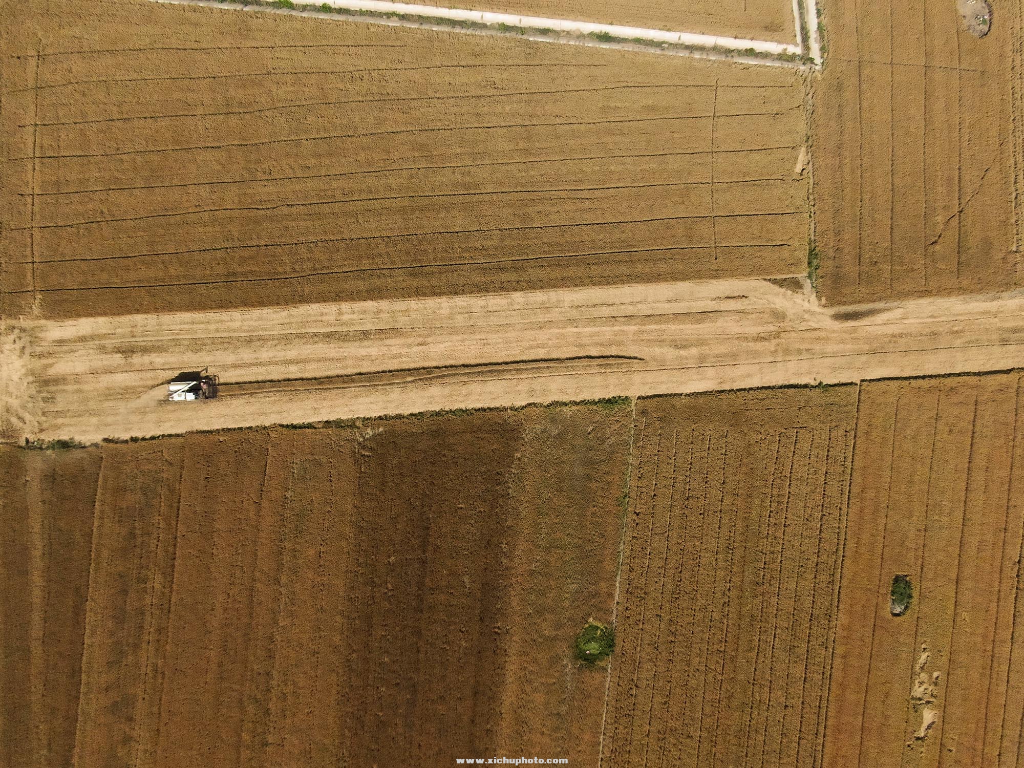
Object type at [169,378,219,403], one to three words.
work vehicle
